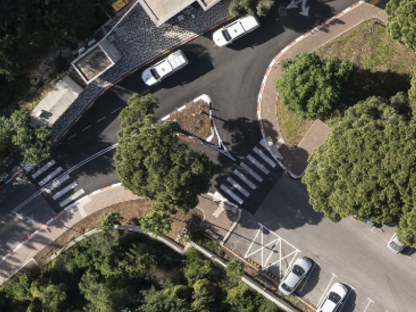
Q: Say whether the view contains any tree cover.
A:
Yes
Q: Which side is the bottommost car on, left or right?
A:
right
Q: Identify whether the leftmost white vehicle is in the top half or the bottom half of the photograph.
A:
top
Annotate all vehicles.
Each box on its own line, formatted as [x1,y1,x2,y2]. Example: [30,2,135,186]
[210,13,260,49]
[388,228,415,252]
[278,252,313,298]
[141,49,191,85]
[316,279,349,312]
